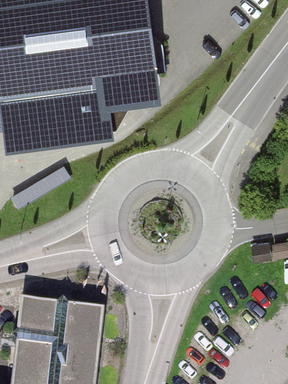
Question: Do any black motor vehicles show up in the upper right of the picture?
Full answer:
Yes, a black motor vehicle appears in the upper right of the picture.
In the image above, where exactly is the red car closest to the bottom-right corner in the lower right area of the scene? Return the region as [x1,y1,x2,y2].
[208,348,230,366]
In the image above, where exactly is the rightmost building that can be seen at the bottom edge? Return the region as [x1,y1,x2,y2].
[11,288,104,384]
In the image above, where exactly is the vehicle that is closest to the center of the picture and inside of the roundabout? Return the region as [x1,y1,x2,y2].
[109,241,122,264]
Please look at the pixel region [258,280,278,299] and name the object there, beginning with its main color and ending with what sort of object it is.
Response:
black car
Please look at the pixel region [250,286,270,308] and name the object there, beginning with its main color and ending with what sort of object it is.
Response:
red car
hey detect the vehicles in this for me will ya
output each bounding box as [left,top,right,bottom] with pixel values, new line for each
[212,334,234,355]
[197,372,216,384]
[7,262,28,272]
[208,348,230,366]
[250,286,270,308]
[186,345,204,364]
[202,38,220,57]
[178,358,197,378]
[205,360,226,379]
[200,314,219,336]
[220,284,236,308]
[194,330,213,352]
[229,8,249,30]
[240,0,261,19]
[221,324,242,344]
[245,298,266,318]
[210,300,228,322]
[109,241,122,264]
[230,275,248,298]
[254,0,268,8]
[258,280,278,299]
[240,310,259,328]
